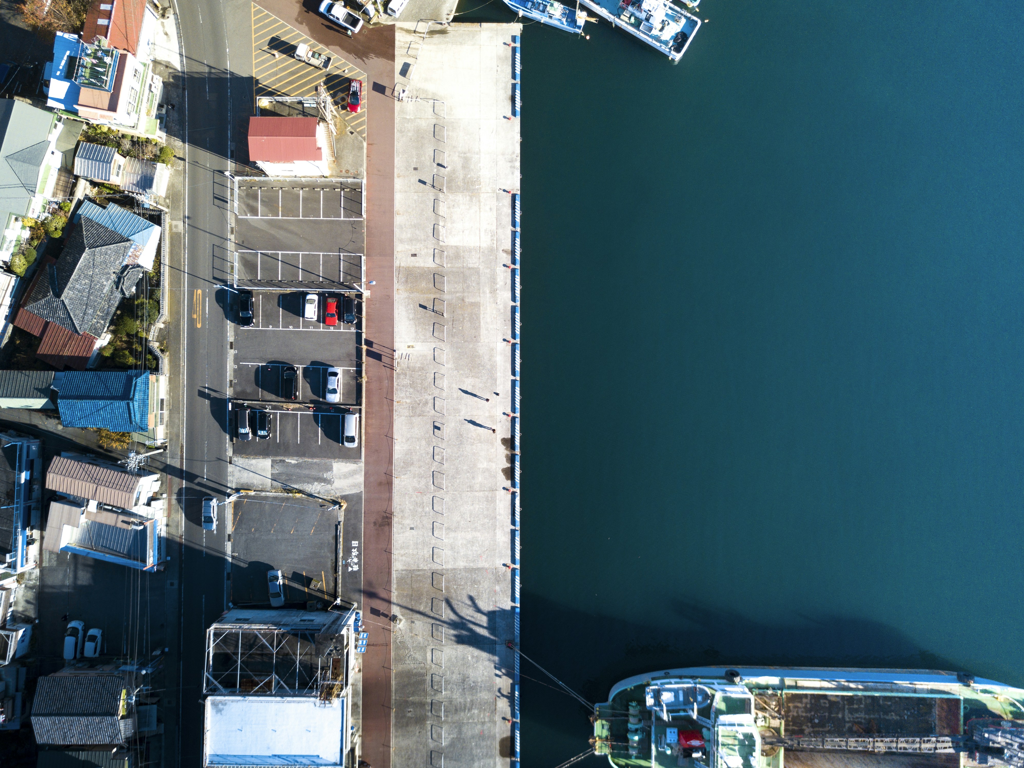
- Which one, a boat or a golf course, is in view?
boat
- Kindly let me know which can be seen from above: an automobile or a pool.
automobile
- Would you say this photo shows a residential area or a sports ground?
residential area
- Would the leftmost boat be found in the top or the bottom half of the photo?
top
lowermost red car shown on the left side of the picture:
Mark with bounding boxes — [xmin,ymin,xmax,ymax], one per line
[323,297,338,326]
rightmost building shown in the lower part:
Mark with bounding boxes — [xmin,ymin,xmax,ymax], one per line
[201,608,354,768]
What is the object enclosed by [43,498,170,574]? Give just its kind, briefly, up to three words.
house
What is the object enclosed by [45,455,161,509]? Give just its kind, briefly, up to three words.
house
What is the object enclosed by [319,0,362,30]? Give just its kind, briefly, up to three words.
truck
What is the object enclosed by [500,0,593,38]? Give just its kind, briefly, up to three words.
boat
